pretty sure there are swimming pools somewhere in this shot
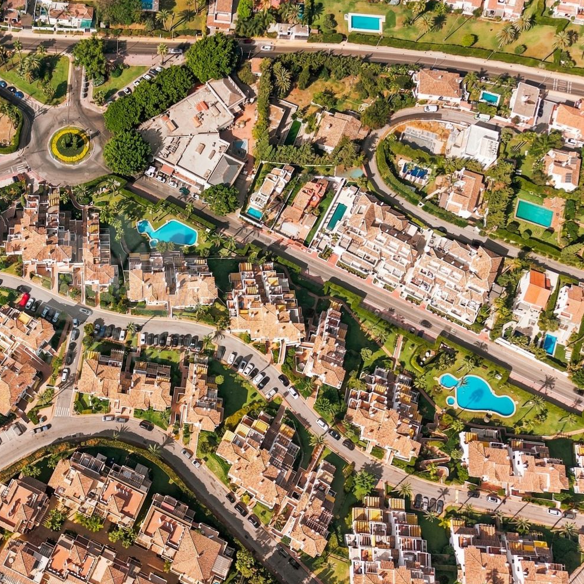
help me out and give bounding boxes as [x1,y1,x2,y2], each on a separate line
[455,372,518,418]
[230,138,249,156]
[134,218,199,248]
[405,159,433,182]
[349,12,382,32]
[245,203,266,221]
[513,197,556,229]
[326,201,349,231]
[541,332,560,356]
[480,89,501,106]
[139,0,158,11]
[445,394,457,407]
[439,371,459,389]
